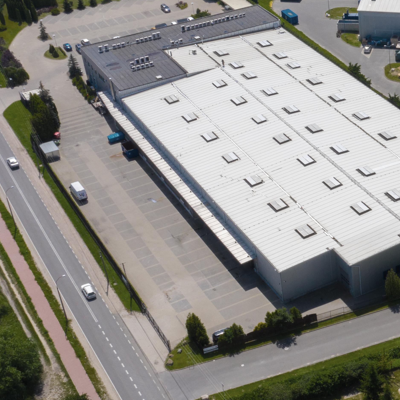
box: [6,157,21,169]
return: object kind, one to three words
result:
vehicle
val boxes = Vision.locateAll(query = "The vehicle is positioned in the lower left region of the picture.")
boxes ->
[81,285,98,301]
